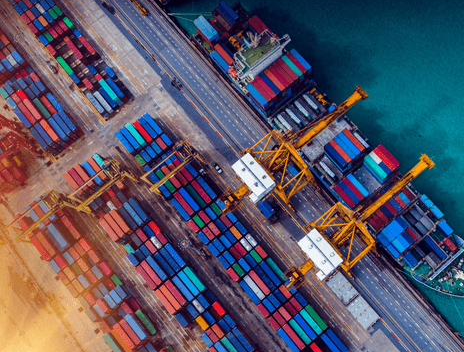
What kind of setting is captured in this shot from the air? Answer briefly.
port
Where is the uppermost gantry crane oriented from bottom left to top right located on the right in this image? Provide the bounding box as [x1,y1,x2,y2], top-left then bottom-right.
[217,89,364,214]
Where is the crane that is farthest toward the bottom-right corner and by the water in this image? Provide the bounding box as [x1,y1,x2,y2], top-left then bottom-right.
[282,155,430,288]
